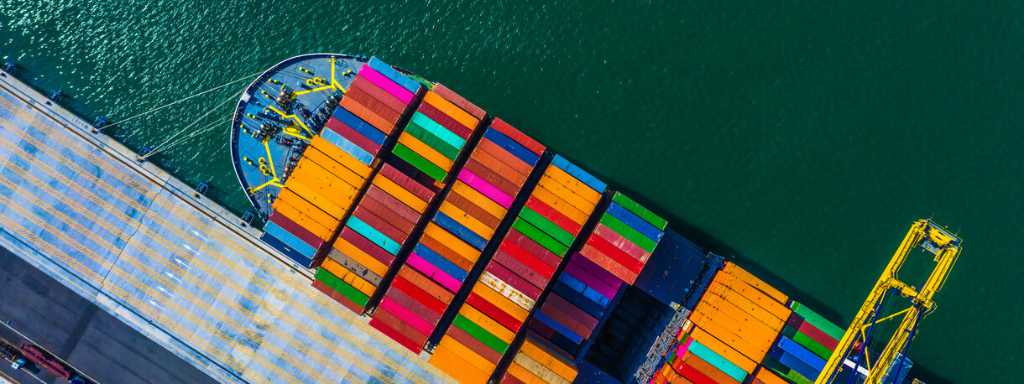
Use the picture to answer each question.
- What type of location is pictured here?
port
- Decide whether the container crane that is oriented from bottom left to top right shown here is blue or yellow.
yellow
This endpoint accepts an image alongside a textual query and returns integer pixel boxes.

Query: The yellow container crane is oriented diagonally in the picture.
[816,210,966,384]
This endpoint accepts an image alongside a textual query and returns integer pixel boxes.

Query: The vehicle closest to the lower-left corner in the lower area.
[0,346,28,371]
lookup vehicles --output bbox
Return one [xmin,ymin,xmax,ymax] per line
[0,346,28,371]
[21,346,88,384]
